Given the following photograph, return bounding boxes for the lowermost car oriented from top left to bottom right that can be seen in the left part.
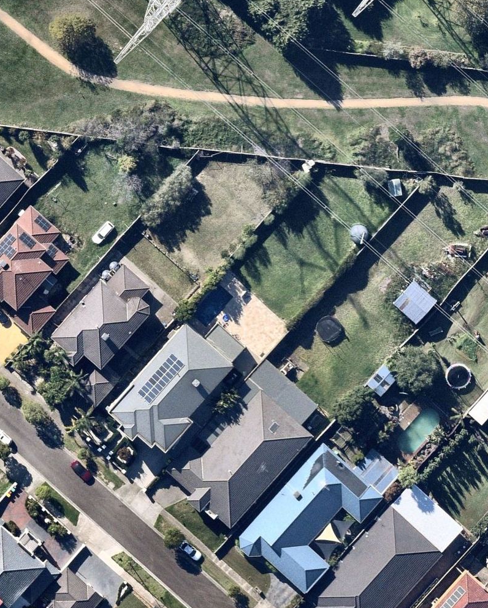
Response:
[180,543,201,560]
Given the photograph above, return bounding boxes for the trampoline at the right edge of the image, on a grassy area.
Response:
[446,364,471,389]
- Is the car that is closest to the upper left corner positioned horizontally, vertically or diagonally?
diagonally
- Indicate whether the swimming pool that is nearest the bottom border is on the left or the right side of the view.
right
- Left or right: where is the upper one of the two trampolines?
right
